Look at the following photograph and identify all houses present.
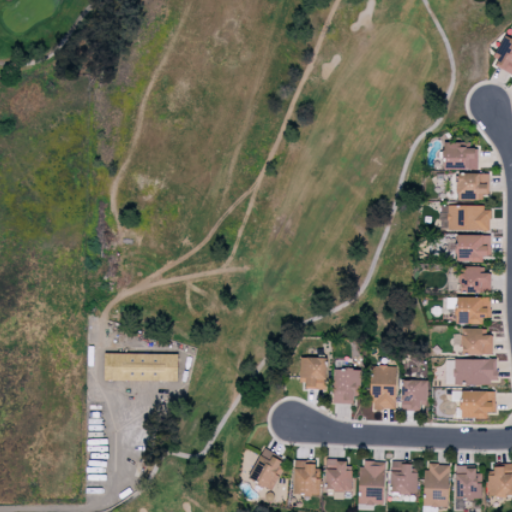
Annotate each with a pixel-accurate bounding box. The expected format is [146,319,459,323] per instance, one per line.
[325,459,353,500]
[458,172,490,200]
[446,358,500,386]
[402,380,429,410]
[456,465,483,510]
[391,461,419,502]
[249,448,284,492]
[446,297,492,324]
[453,391,498,419]
[300,354,328,392]
[423,464,451,512]
[494,36,512,74]
[294,460,322,497]
[333,368,362,404]
[488,464,512,497]
[456,234,492,262]
[358,460,386,511]
[462,329,494,354]
[372,366,398,410]
[441,206,492,232]
[444,142,479,170]
[460,266,492,294]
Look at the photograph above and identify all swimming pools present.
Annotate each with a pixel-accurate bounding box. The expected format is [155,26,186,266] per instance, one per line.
[241,483,259,501]
[428,140,442,167]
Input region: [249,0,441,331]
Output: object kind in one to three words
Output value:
golf course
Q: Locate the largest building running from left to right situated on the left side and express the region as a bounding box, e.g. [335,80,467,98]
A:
[104,354,178,382]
